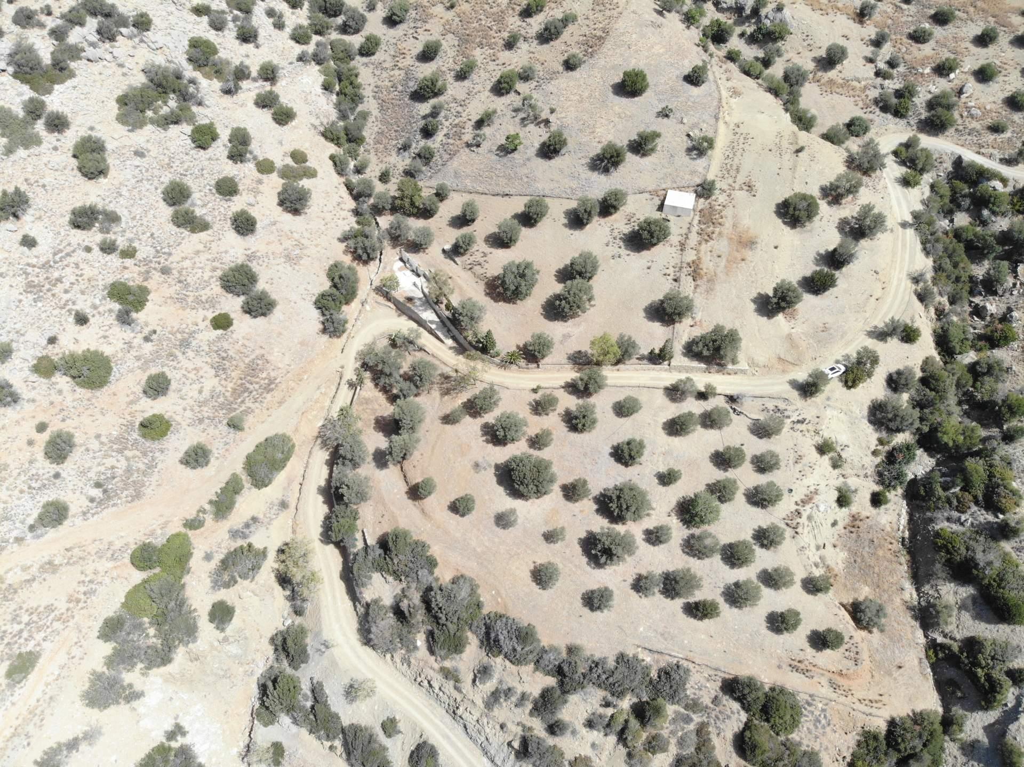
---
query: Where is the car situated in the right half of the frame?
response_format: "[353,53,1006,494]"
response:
[822,363,847,379]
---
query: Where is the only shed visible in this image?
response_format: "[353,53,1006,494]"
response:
[663,190,696,218]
